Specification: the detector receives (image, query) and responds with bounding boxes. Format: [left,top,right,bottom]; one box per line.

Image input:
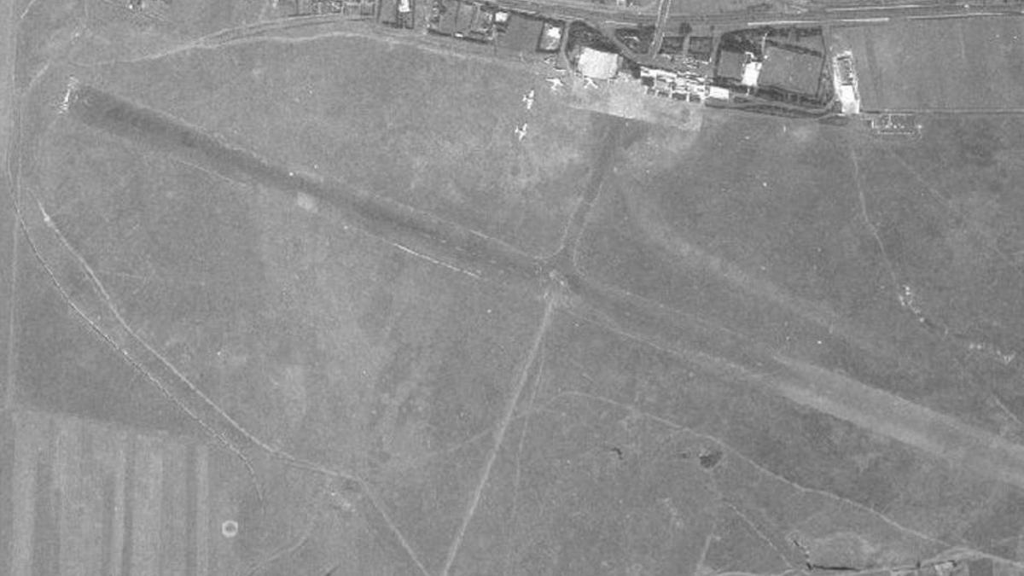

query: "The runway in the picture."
[66,72,1024,495]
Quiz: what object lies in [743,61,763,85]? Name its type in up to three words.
house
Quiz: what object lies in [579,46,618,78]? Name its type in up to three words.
hangar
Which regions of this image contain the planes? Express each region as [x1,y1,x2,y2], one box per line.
[547,78,564,90]
[521,90,533,108]
[515,123,526,140]
[585,78,596,89]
